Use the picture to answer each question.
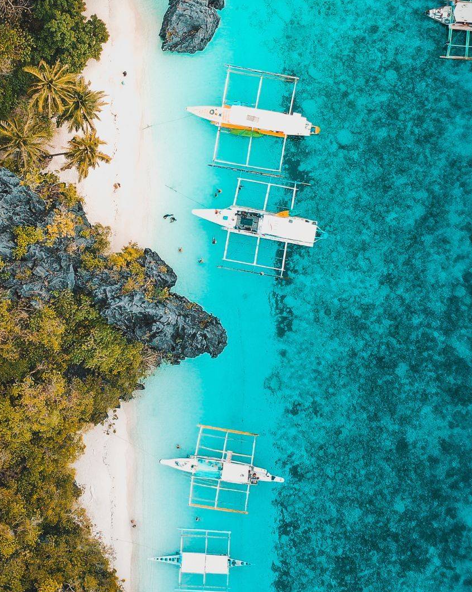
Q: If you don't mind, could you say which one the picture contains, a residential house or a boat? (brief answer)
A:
boat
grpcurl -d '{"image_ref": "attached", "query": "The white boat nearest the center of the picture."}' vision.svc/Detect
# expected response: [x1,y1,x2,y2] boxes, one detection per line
[191,170,327,279]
